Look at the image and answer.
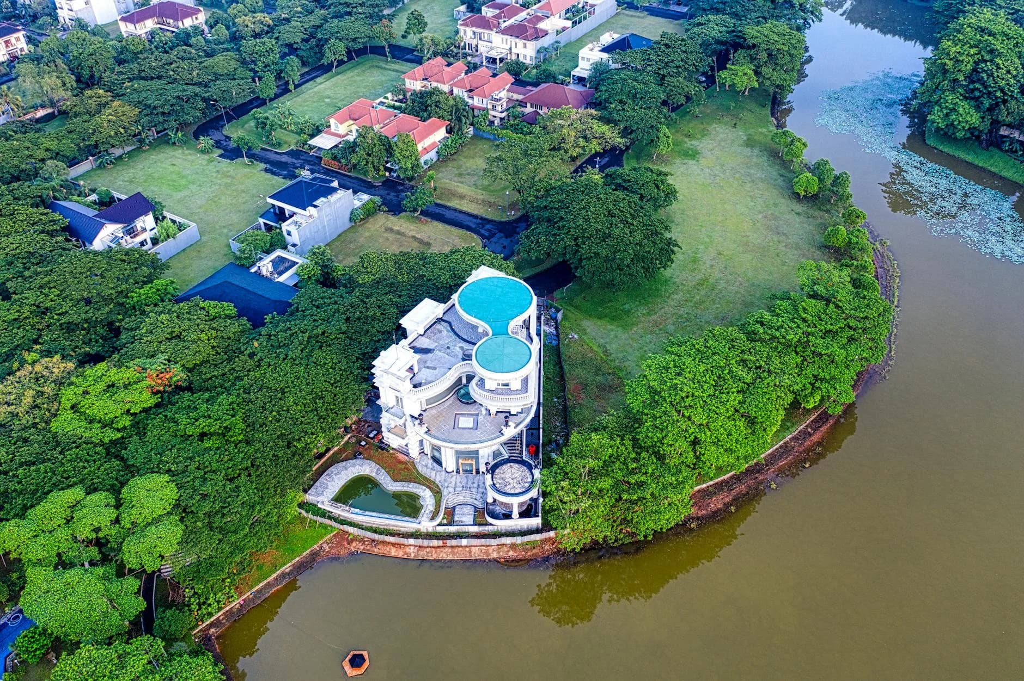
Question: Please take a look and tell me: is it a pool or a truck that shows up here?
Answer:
pool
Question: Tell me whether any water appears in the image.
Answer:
Yes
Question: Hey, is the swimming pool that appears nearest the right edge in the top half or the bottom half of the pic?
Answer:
bottom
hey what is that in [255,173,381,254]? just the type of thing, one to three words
house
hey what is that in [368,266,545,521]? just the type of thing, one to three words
house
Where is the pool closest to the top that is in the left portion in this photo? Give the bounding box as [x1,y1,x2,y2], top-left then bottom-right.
[308,460,436,535]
